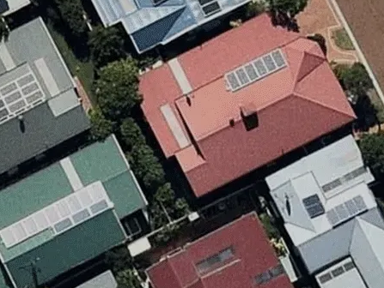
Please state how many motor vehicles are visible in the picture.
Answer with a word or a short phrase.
none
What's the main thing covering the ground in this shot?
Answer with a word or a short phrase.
buildings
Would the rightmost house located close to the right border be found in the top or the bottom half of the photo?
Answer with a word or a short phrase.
bottom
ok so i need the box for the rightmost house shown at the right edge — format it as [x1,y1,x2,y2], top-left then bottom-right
[264,133,384,288]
